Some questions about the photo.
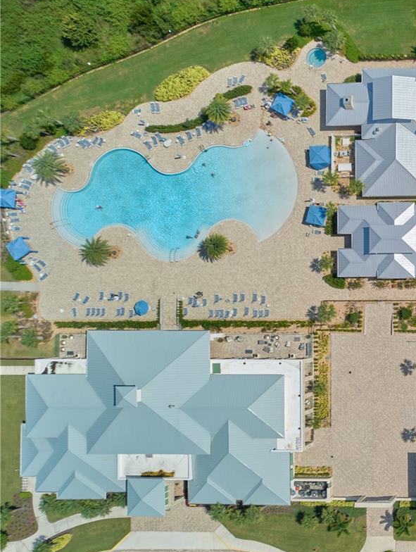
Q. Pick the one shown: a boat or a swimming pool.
swimming pool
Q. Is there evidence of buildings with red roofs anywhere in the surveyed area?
No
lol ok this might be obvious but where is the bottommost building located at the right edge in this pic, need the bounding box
[338,202,416,279]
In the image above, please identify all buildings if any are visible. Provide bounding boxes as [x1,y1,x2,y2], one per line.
[338,202,416,279]
[327,68,416,196]
[20,331,311,508]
